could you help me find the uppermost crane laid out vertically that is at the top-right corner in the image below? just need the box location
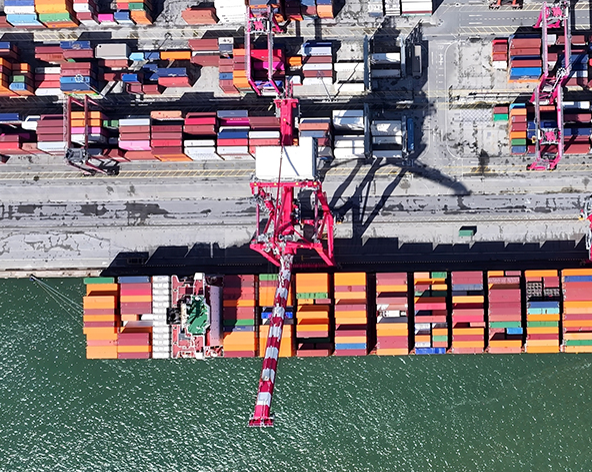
[529,3,572,95]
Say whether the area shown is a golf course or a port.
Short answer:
port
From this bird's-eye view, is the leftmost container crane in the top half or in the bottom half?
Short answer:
top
